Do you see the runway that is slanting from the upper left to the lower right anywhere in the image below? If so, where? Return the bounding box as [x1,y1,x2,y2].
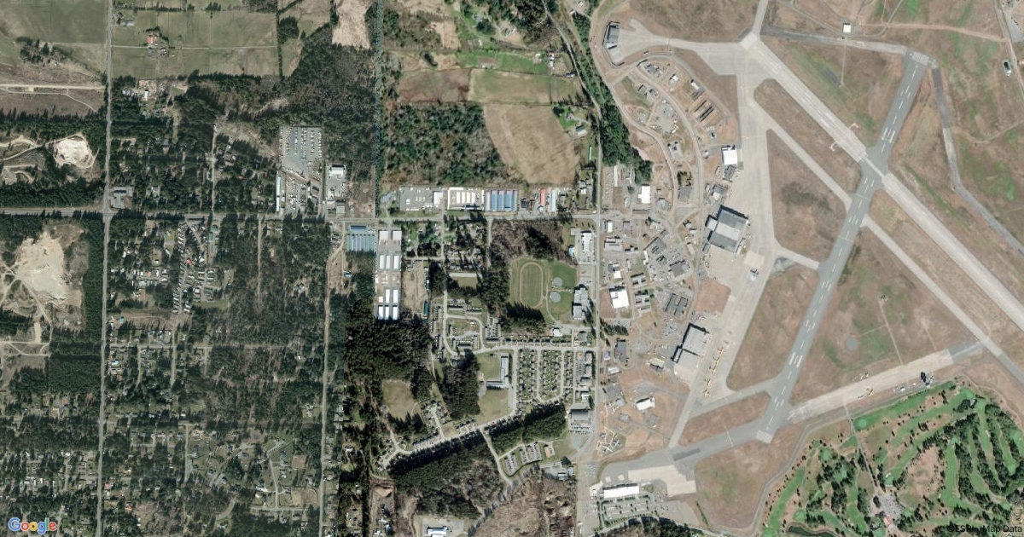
[737,27,1024,337]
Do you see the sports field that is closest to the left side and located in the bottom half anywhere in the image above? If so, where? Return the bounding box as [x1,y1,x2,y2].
[384,383,414,416]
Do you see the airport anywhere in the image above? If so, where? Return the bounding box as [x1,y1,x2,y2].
[601,0,1024,497]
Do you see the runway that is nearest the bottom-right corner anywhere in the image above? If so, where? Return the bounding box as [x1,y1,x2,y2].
[788,341,983,423]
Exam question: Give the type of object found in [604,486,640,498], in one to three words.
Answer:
building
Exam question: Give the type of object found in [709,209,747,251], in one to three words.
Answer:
hangar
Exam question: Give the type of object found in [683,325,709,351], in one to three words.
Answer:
hangar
